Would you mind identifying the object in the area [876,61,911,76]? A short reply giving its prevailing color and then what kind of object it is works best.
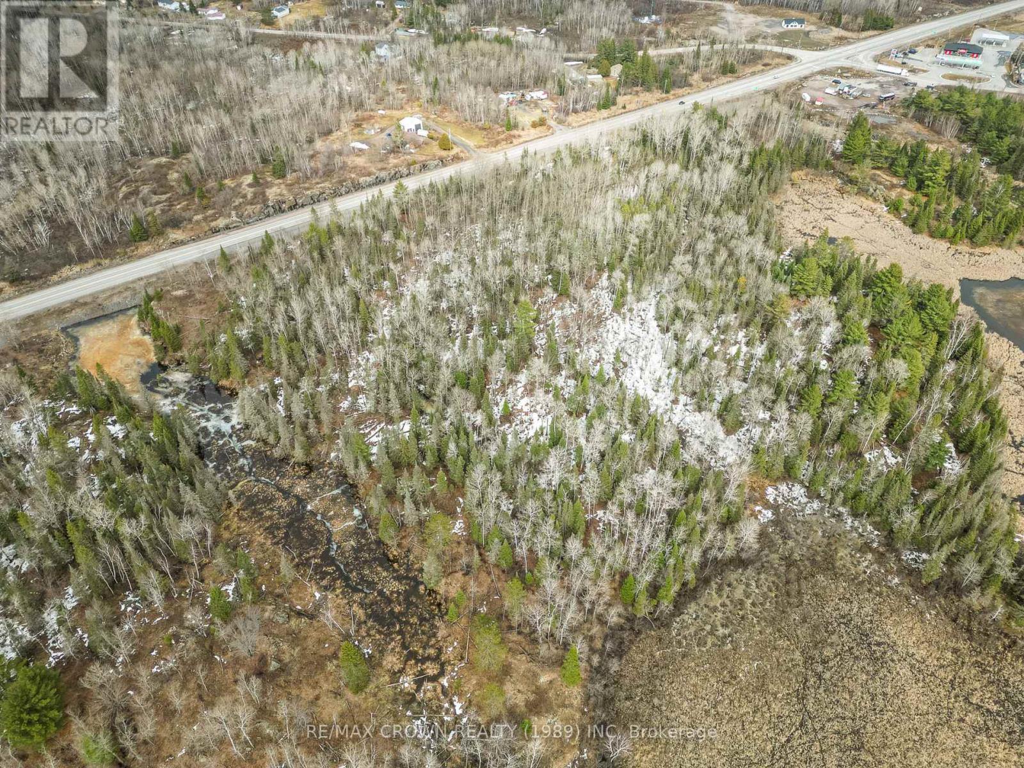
white vehicle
